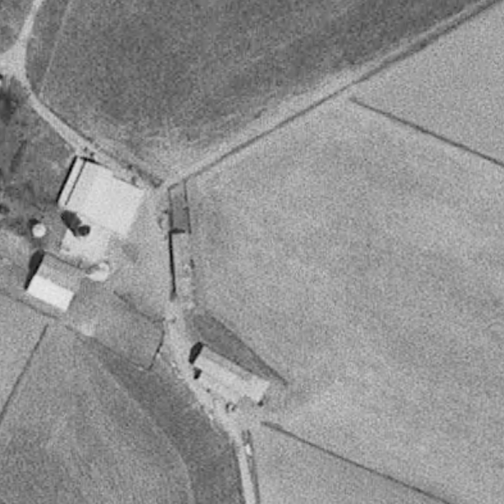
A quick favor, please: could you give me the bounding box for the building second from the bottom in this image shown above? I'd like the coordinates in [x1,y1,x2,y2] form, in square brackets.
[28,253,81,311]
